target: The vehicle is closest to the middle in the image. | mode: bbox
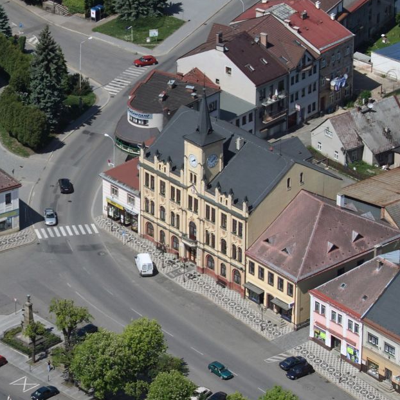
[137,254,152,271]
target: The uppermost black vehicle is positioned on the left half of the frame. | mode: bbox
[59,176,73,193]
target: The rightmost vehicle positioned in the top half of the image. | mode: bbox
[133,52,158,65]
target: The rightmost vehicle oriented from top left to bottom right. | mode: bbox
[207,357,234,377]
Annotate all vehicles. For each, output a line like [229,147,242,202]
[133,52,158,65]
[30,384,59,400]
[207,357,234,377]
[279,353,308,369]
[59,176,73,193]
[288,360,316,378]
[44,205,57,224]
[0,351,9,364]
[137,254,152,271]
[207,389,229,400]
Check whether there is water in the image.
No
